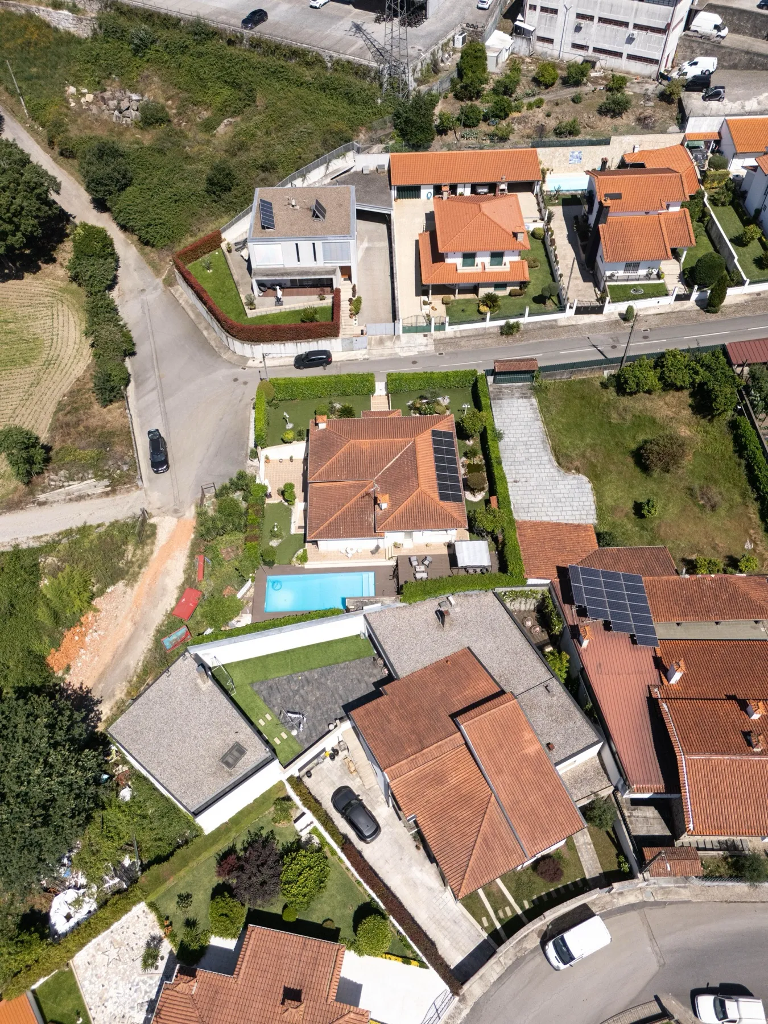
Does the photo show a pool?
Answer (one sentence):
Yes, I can see a pool in this picture.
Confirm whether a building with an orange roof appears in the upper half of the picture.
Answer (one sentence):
Yes, a building with an orange roof can be seen in the upper half of the picture.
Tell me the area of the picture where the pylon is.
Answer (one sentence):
The pylon appears toward the top of the photo.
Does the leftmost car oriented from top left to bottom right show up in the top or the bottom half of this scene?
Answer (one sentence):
You can find the leftmost car oriented from top left to bottom right in the bottom half.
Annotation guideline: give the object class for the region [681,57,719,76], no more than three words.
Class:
vehicle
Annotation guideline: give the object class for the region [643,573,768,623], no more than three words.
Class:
shed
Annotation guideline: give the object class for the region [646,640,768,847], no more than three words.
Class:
house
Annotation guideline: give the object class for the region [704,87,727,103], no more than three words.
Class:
car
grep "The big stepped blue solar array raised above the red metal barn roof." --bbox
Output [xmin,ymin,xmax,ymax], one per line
[569,565,657,650]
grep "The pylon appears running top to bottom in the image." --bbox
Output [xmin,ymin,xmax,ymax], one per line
[383,0,414,105]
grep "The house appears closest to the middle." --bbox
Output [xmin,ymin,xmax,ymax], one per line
[306,409,469,551]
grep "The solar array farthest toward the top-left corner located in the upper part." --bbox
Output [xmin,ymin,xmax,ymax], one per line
[260,199,275,235]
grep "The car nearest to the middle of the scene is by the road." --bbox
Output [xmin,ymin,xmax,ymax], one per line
[292,346,335,368]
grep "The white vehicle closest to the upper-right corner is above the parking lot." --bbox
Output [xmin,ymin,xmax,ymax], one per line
[698,11,732,41]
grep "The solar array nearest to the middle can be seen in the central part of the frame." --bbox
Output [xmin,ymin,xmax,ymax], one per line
[432,430,463,502]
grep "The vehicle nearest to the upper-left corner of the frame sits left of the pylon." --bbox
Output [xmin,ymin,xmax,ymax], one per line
[241,8,268,26]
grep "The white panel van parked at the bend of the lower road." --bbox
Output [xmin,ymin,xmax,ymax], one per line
[546,915,619,974]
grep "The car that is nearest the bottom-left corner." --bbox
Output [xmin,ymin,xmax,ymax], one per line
[330,781,383,846]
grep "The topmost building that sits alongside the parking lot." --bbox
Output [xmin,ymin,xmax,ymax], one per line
[518,0,698,81]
